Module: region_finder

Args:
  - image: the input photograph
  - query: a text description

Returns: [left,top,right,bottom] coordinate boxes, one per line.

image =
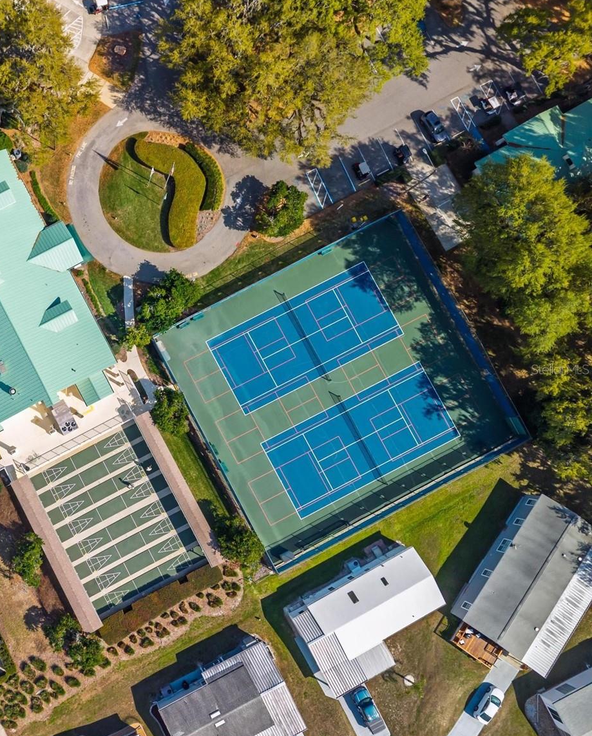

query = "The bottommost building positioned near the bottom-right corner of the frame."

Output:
[541,667,592,736]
